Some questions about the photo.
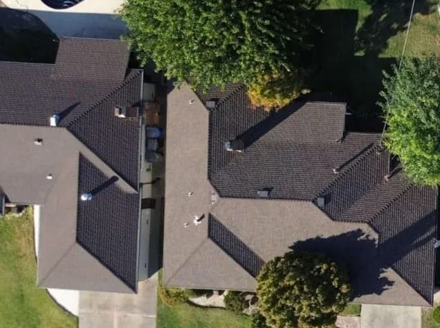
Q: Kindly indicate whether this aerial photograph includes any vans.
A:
No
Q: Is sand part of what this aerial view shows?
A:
No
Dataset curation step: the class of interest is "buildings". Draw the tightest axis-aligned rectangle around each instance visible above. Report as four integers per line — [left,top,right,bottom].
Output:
[0,38,155,294]
[162,66,440,307]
